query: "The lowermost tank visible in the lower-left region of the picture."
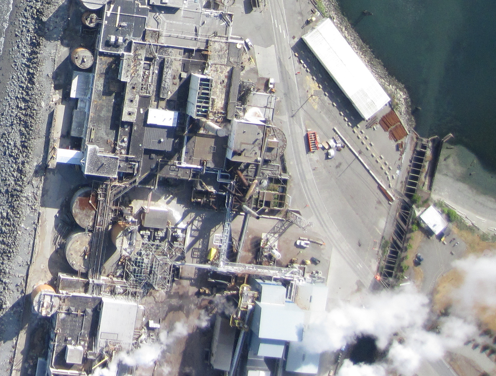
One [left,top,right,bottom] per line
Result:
[30,281,62,317]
